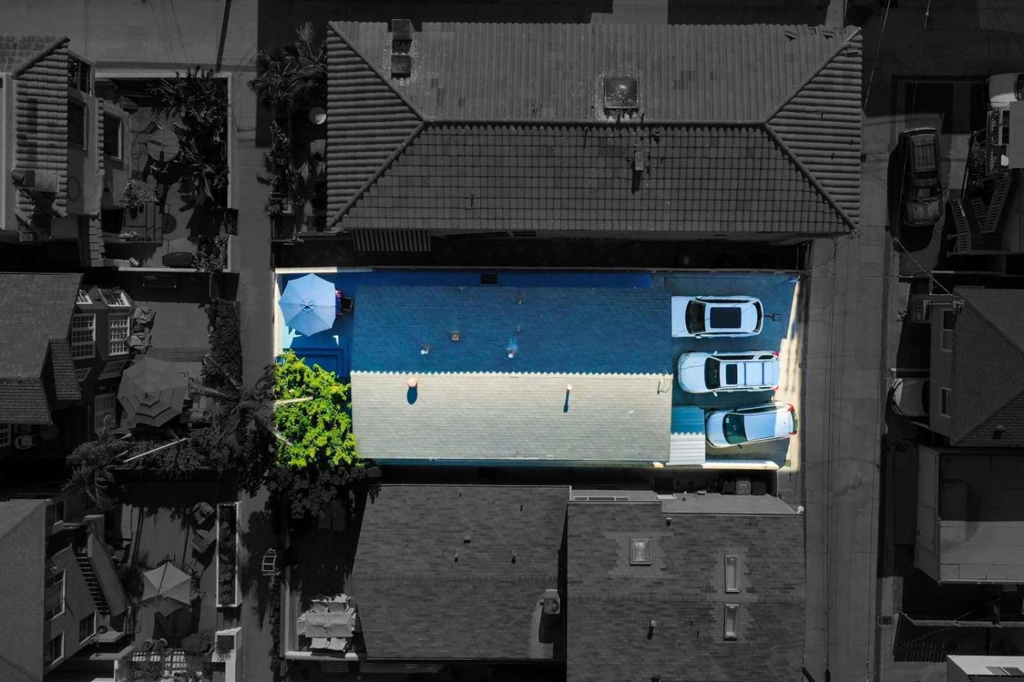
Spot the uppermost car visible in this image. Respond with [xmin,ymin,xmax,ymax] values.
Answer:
[979,69,1024,111]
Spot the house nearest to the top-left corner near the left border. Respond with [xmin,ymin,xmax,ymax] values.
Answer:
[0,36,126,275]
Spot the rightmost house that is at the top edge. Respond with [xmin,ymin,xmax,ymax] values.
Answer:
[325,12,864,238]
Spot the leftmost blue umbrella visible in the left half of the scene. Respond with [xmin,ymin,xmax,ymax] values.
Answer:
[277,274,337,334]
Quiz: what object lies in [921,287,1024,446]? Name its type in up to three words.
house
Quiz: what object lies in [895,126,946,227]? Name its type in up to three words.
car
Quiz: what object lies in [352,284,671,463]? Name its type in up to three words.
house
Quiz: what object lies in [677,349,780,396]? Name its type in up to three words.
car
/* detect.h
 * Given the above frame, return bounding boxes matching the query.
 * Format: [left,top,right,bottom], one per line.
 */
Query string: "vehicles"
[705,400,800,449]
[670,292,765,340]
[895,126,946,227]
[979,69,1024,111]
[887,376,933,420]
[677,349,780,396]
